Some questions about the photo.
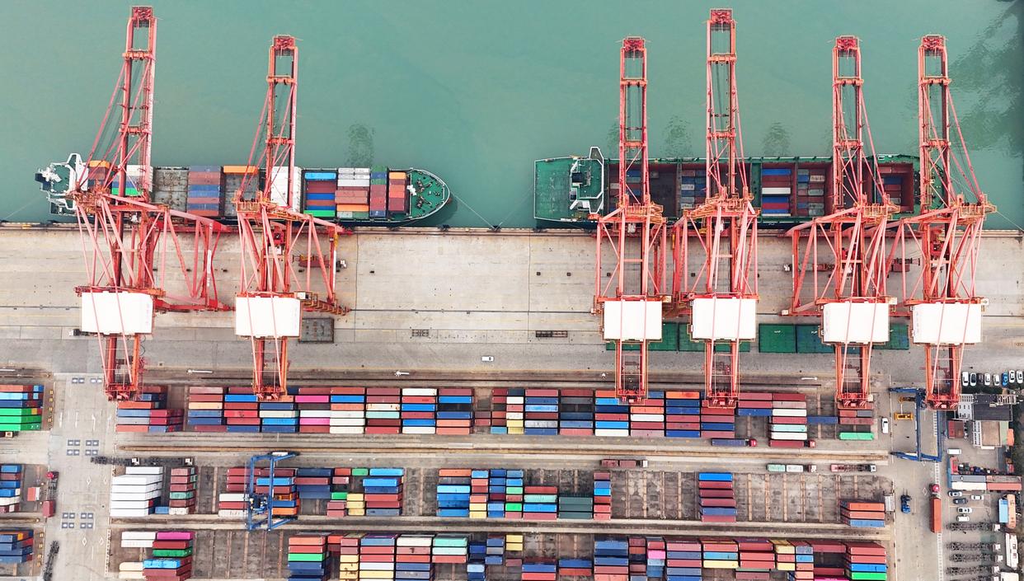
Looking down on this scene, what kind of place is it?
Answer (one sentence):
The area seen from above is a port.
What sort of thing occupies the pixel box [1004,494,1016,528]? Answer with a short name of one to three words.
vehicle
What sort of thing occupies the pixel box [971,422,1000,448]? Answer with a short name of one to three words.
building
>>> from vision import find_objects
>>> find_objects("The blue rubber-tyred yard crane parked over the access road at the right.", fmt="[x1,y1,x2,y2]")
[889,387,944,462]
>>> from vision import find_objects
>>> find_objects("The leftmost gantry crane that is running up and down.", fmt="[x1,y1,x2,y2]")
[75,6,237,407]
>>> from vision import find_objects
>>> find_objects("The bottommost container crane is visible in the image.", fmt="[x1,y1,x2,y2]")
[242,451,300,532]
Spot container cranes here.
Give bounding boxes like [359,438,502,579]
[583,36,674,412]
[663,12,758,413]
[75,6,237,407]
[242,451,300,532]
[889,387,944,462]
[861,39,1009,415]
[772,39,910,414]
[229,33,360,408]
